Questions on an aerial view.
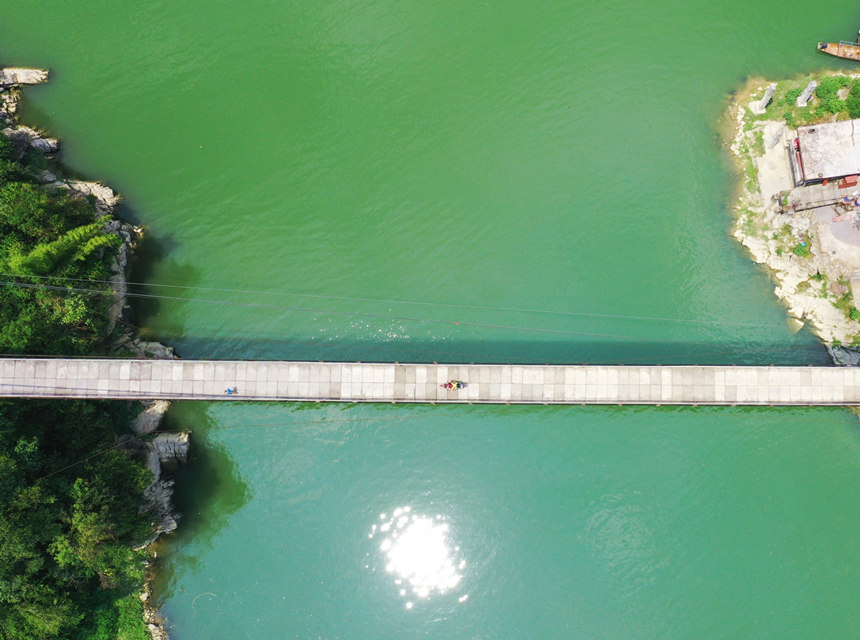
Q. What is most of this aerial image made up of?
water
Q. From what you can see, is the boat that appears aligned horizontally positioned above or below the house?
above it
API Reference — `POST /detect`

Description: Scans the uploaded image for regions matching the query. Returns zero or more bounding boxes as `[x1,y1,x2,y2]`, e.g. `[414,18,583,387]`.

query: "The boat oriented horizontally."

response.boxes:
[815,37,860,60]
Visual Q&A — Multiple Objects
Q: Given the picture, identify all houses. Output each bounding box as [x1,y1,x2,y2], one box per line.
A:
[786,119,860,189]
